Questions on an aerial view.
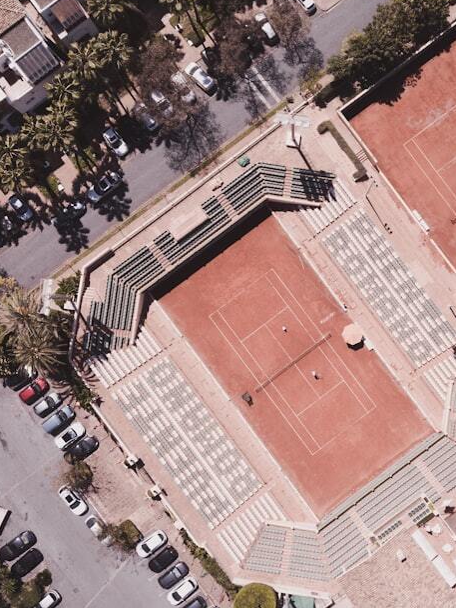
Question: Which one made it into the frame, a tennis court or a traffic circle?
tennis court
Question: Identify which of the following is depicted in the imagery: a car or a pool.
car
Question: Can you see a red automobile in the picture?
Yes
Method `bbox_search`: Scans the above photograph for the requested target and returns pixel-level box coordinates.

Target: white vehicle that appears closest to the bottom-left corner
[33,588,63,608]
